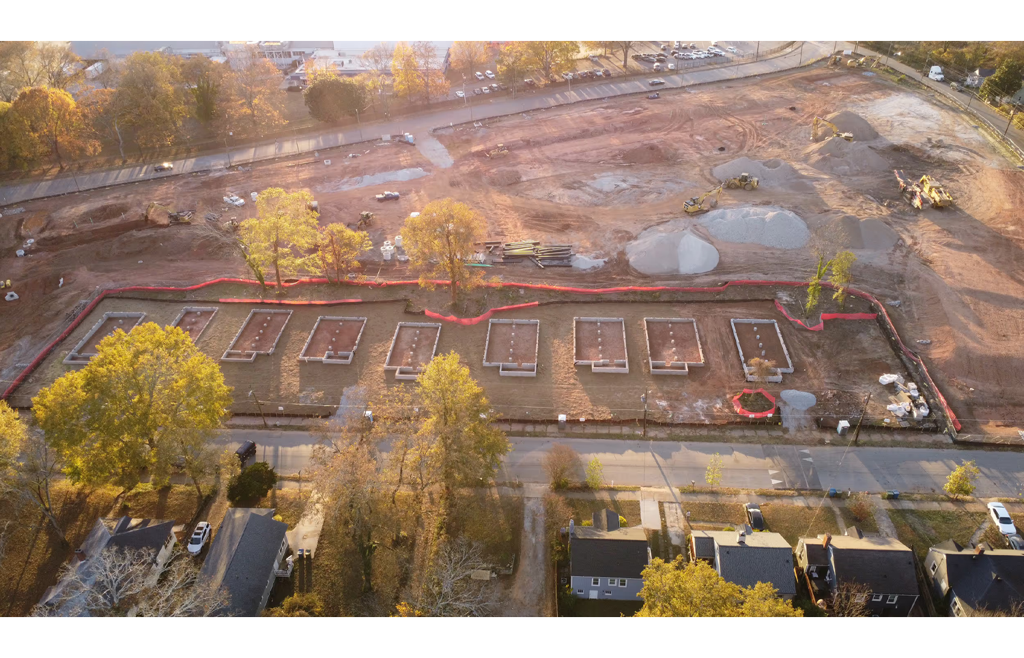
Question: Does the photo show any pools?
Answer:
No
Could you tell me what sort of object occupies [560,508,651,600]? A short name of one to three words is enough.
house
